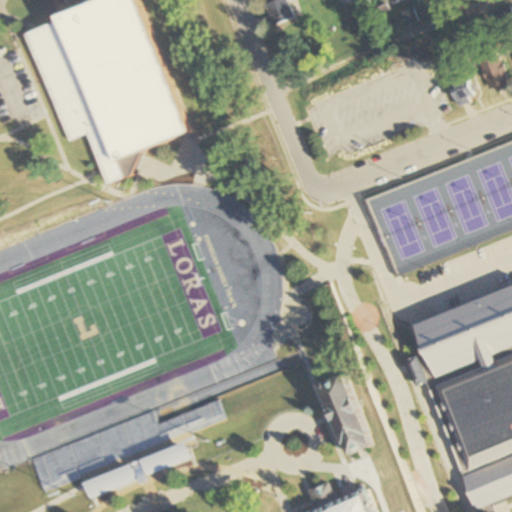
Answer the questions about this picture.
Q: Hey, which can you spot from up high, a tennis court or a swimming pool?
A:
tennis court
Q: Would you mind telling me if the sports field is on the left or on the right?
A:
left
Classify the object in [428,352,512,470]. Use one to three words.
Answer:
building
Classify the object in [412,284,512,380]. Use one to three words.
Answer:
building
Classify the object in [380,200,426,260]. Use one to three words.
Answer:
tennis court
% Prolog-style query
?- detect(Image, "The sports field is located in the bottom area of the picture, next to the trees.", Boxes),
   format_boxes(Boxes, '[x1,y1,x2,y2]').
[0,206,236,442]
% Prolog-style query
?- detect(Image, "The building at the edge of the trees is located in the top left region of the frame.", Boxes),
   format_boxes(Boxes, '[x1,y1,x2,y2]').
[24,0,188,184]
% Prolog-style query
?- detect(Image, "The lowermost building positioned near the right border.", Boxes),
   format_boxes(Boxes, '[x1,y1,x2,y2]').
[458,450,512,501]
